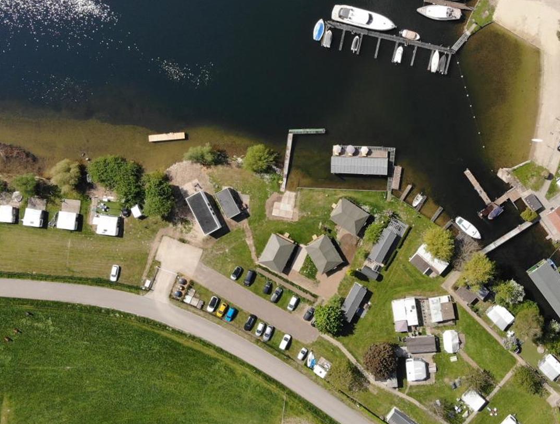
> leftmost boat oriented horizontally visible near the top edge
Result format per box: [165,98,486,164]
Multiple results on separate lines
[327,3,400,33]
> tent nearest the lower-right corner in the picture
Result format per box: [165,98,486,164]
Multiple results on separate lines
[462,384,485,410]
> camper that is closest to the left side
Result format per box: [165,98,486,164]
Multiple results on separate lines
[0,206,21,225]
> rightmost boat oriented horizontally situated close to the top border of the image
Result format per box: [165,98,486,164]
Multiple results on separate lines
[413,4,464,23]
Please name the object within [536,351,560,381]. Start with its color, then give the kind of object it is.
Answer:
white camper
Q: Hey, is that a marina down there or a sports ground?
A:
marina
